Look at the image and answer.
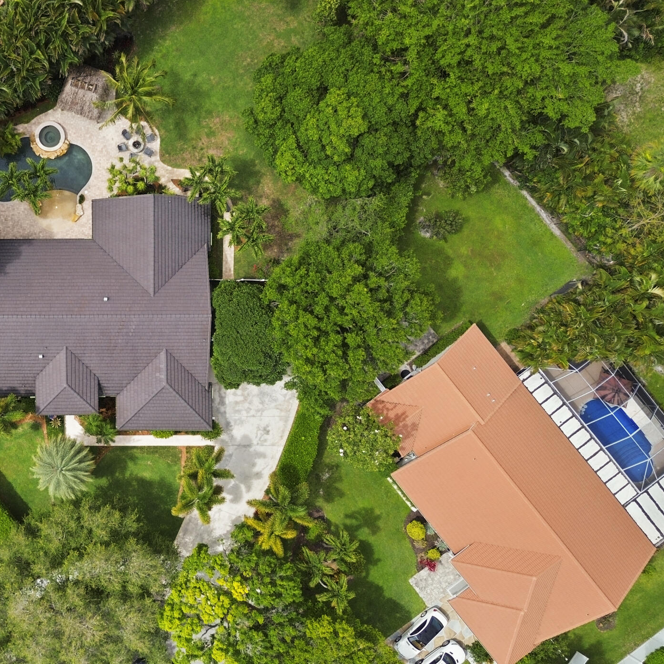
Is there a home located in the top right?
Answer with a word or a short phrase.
No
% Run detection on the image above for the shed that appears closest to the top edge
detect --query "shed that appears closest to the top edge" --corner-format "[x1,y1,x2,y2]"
[55,64,119,127]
